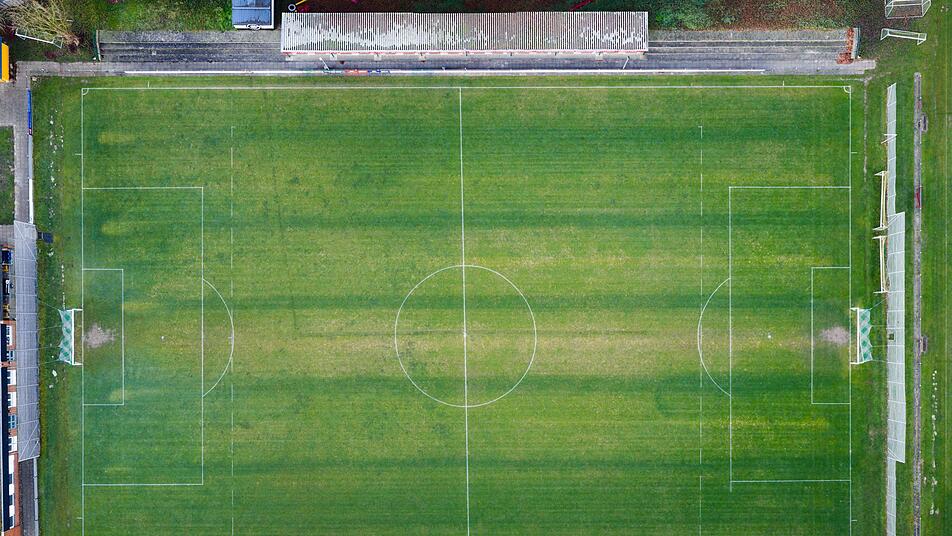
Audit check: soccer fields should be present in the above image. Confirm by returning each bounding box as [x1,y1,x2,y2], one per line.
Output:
[64,80,866,536]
